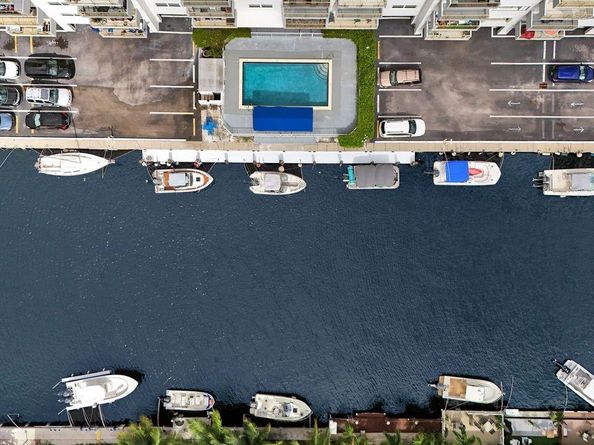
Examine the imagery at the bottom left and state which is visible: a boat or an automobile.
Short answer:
boat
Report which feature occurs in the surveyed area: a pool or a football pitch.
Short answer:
pool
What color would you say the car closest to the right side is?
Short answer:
blue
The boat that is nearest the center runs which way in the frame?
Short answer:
horizontally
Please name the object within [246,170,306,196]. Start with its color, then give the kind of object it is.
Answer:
white boat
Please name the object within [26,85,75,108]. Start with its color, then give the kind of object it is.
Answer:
white car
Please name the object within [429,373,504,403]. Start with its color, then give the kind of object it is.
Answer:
white boat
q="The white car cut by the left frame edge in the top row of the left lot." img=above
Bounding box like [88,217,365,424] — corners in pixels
[0,58,23,81]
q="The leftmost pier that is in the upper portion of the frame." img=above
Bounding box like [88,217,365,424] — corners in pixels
[142,151,172,163]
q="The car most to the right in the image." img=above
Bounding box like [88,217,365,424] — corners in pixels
[549,64,594,85]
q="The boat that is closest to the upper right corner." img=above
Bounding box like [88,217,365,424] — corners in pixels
[532,169,594,197]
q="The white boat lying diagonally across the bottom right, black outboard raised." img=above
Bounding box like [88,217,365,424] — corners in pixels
[552,358,594,406]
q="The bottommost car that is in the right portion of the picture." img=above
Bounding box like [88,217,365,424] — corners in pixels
[379,117,423,139]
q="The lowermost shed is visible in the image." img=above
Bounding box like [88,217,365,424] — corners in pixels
[198,57,224,96]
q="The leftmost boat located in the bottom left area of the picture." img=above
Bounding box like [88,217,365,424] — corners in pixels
[53,374,138,409]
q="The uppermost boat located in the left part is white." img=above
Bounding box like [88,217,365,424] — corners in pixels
[33,149,115,175]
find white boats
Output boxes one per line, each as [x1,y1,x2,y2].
[53,374,138,409]
[425,160,501,186]
[151,167,213,194]
[429,373,504,403]
[532,169,594,197]
[157,390,215,410]
[248,393,314,420]
[33,149,115,175]
[552,358,594,406]
[246,170,306,196]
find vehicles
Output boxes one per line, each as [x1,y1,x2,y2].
[379,117,423,139]
[26,85,75,108]
[25,55,78,81]
[0,58,23,81]
[549,64,594,85]
[28,110,74,132]
[0,84,26,106]
[379,67,420,88]
[0,114,17,133]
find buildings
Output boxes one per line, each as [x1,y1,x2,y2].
[0,0,594,40]
[198,57,224,96]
